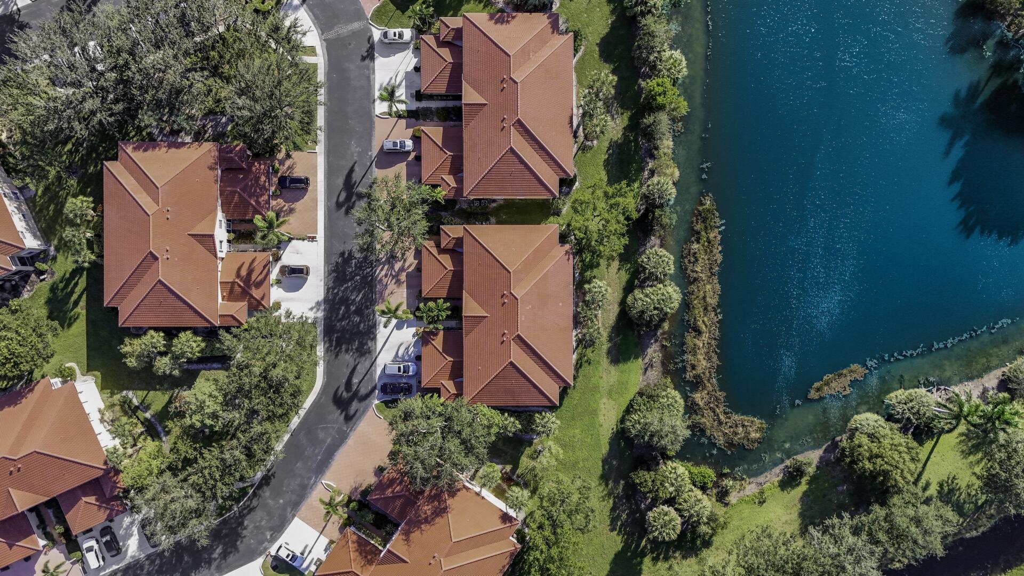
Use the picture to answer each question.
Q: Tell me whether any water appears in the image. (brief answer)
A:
Yes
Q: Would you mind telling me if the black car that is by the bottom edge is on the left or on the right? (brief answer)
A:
left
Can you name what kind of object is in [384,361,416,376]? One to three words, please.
car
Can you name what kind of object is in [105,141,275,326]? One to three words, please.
house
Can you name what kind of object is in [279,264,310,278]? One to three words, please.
car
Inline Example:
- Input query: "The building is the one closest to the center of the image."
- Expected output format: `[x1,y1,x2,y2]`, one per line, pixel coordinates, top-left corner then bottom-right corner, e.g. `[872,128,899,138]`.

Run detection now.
[420,222,576,408]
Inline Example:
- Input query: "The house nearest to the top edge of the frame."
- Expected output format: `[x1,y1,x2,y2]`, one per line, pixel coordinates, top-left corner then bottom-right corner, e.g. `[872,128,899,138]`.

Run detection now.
[420,13,576,200]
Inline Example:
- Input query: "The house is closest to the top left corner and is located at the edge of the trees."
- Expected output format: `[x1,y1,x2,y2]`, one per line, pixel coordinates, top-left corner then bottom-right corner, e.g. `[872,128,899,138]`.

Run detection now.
[0,133,69,288]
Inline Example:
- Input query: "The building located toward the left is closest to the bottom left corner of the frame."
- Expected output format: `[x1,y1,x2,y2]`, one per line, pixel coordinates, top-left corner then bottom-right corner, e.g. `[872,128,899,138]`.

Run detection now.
[0,375,129,568]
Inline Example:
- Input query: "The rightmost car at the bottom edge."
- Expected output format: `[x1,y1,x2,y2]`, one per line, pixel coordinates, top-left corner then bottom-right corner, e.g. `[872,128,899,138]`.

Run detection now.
[275,543,305,567]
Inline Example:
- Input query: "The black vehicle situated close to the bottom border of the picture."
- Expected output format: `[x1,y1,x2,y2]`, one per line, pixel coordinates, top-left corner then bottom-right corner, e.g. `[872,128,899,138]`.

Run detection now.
[101,525,121,556]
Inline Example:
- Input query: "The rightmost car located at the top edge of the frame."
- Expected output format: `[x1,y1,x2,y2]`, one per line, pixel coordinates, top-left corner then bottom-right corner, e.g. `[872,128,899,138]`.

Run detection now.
[380,28,412,44]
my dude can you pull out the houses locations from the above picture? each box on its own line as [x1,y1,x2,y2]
[105,141,275,326]
[0,133,69,288]
[315,454,520,576]
[420,222,576,408]
[420,13,576,200]
[0,375,129,568]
